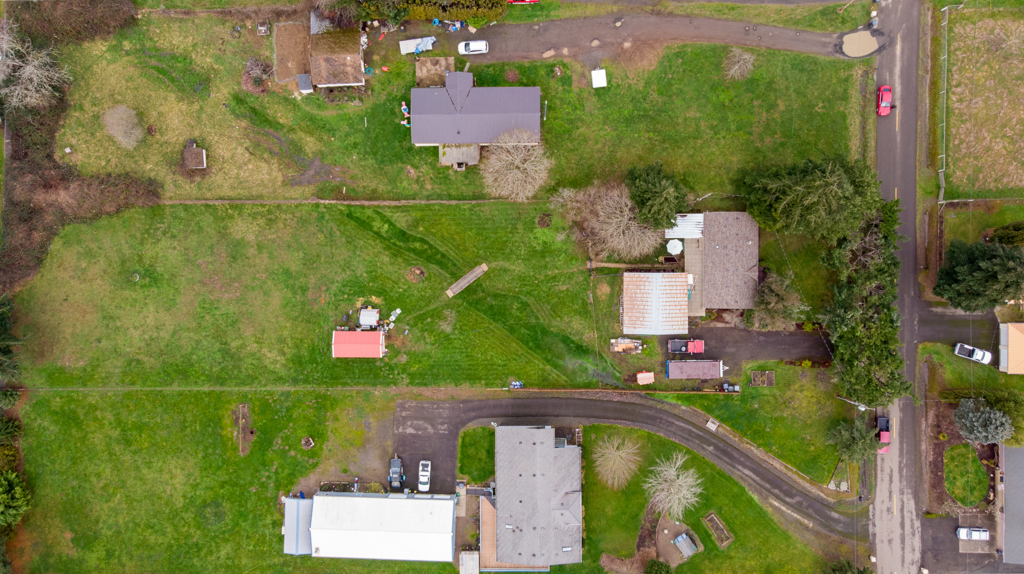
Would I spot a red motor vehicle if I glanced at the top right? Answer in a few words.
Yes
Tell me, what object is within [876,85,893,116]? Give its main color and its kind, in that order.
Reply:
red car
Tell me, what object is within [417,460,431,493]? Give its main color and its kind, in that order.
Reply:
white vehicle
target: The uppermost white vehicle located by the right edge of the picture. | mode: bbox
[953,343,992,363]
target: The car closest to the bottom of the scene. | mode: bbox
[957,526,992,542]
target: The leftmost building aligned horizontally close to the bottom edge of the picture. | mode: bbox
[309,490,455,562]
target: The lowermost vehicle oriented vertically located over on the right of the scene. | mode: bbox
[874,418,891,454]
